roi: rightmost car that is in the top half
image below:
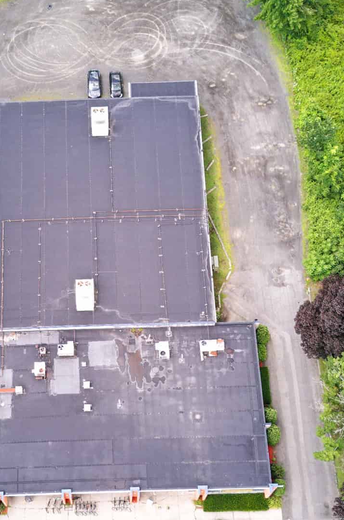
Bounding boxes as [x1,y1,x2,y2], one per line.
[108,67,124,98]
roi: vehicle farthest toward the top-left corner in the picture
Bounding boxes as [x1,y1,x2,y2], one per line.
[86,66,102,99]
